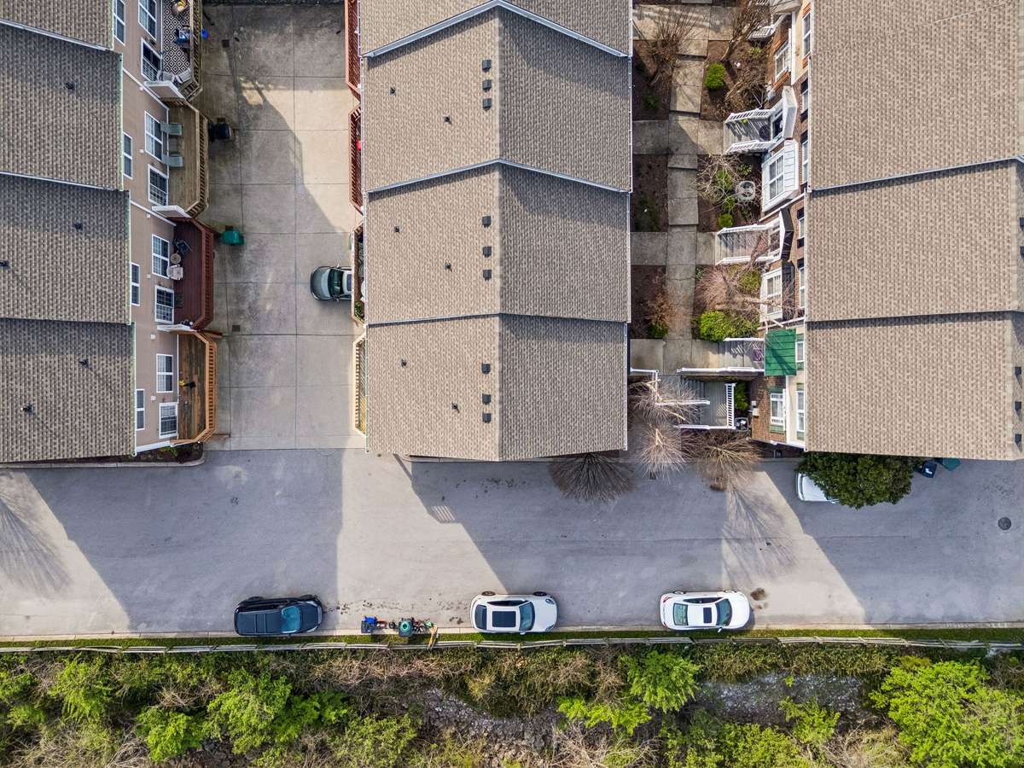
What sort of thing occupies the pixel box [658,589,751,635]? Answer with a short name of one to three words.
car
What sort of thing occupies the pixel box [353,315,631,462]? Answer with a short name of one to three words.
house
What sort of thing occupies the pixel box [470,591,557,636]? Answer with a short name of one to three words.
car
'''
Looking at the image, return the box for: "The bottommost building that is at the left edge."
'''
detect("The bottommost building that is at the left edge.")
[0,318,217,462]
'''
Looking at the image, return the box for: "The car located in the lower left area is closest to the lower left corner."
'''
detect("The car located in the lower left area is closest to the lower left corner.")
[232,595,325,643]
